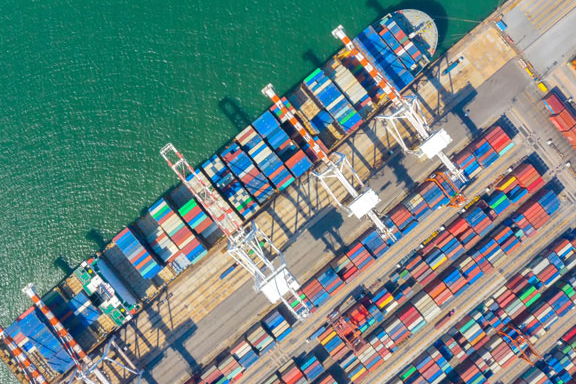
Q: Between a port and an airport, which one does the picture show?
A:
port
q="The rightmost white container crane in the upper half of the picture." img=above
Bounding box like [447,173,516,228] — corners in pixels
[333,24,470,184]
